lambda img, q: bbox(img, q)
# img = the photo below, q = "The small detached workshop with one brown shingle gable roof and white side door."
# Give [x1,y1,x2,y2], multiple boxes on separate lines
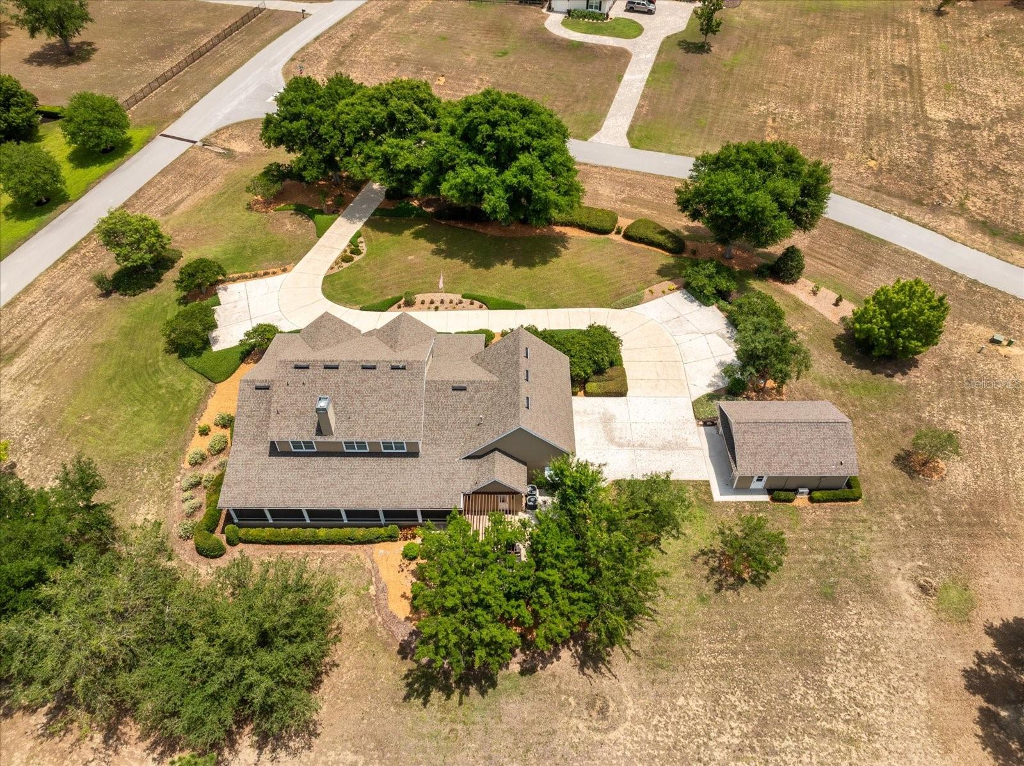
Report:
[712,399,858,491]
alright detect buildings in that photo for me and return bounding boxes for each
[712,399,858,491]
[549,0,607,16]
[217,311,576,529]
